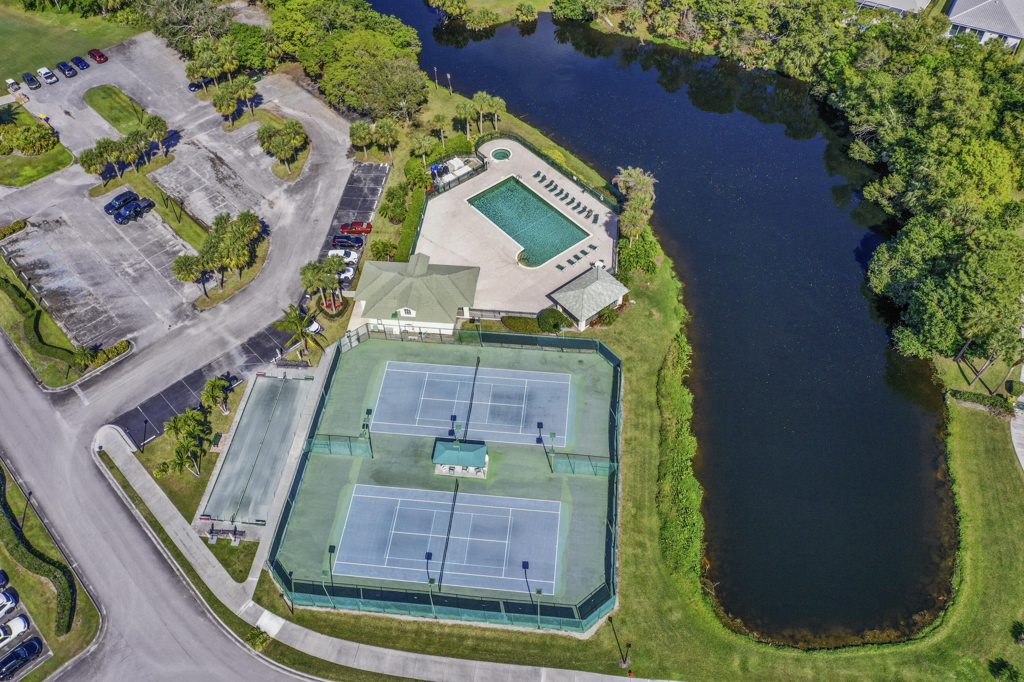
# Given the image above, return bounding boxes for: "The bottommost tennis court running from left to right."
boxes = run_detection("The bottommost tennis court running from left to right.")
[274,453,618,632]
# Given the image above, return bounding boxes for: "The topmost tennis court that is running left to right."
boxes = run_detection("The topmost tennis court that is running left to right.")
[315,338,621,478]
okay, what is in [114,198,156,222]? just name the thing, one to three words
truck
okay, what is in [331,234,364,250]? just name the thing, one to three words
car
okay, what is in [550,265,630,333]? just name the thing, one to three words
building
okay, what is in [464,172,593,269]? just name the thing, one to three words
swimming pool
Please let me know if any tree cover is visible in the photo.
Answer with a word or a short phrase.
Yes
